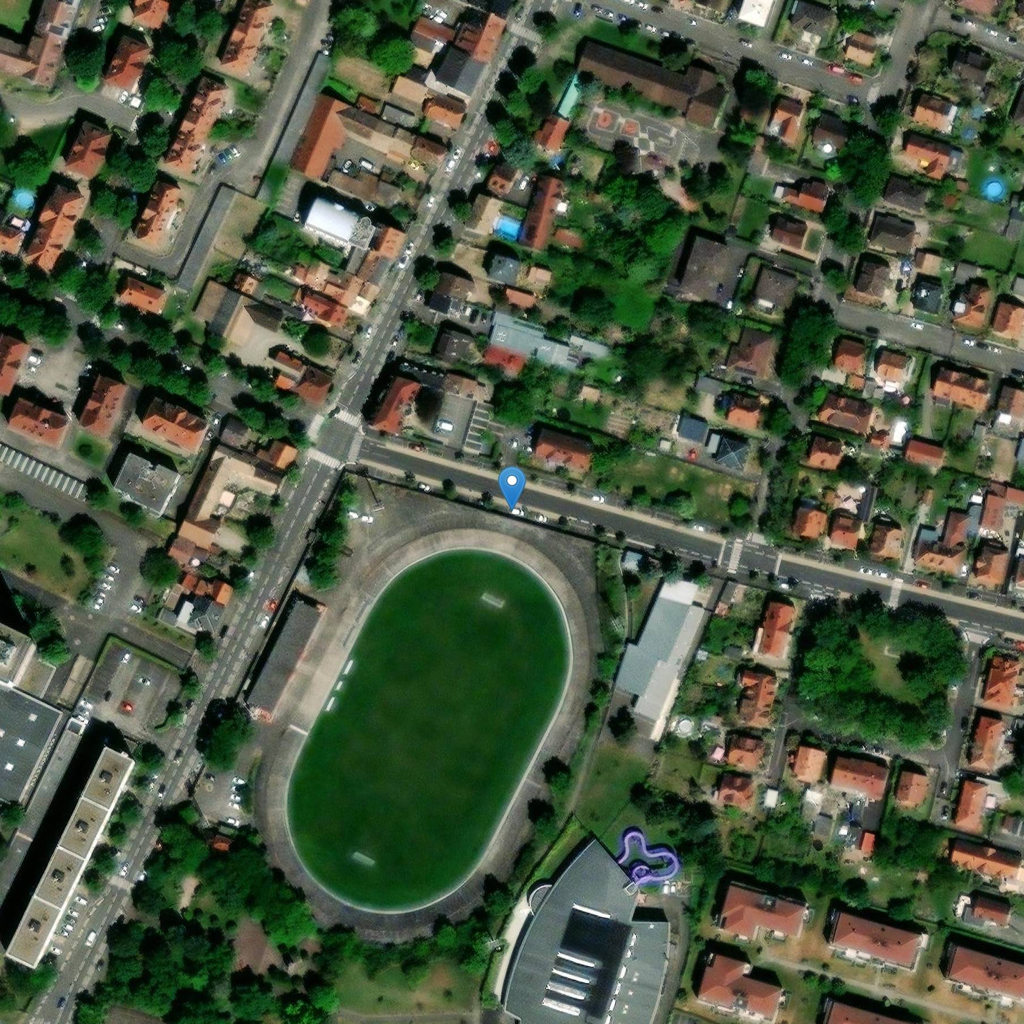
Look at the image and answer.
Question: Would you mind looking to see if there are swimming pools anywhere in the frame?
Yes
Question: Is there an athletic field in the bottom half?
Yes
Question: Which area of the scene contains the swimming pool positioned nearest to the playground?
top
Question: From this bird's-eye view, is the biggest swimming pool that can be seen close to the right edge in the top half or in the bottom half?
top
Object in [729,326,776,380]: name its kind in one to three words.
house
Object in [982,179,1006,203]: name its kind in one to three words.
swimming pool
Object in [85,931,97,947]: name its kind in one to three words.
vehicle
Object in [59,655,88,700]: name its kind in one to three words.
shed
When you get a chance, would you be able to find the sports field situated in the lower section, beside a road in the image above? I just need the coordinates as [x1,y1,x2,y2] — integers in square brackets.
[290,552,567,908]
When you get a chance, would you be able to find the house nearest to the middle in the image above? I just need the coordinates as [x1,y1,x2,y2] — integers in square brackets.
[532,423,596,467]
